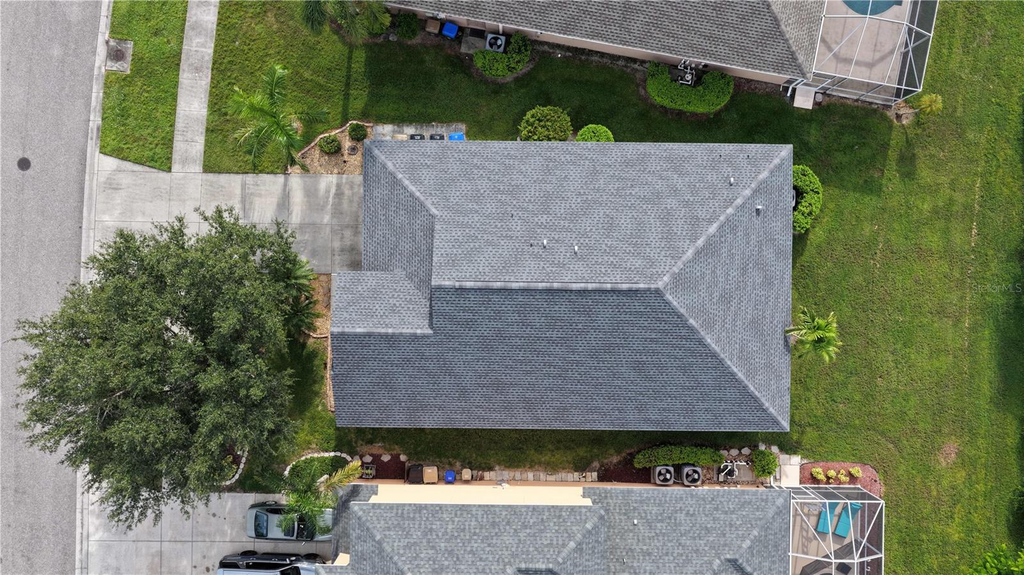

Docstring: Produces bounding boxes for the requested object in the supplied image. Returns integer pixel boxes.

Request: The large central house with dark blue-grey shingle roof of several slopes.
[328,139,794,435]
